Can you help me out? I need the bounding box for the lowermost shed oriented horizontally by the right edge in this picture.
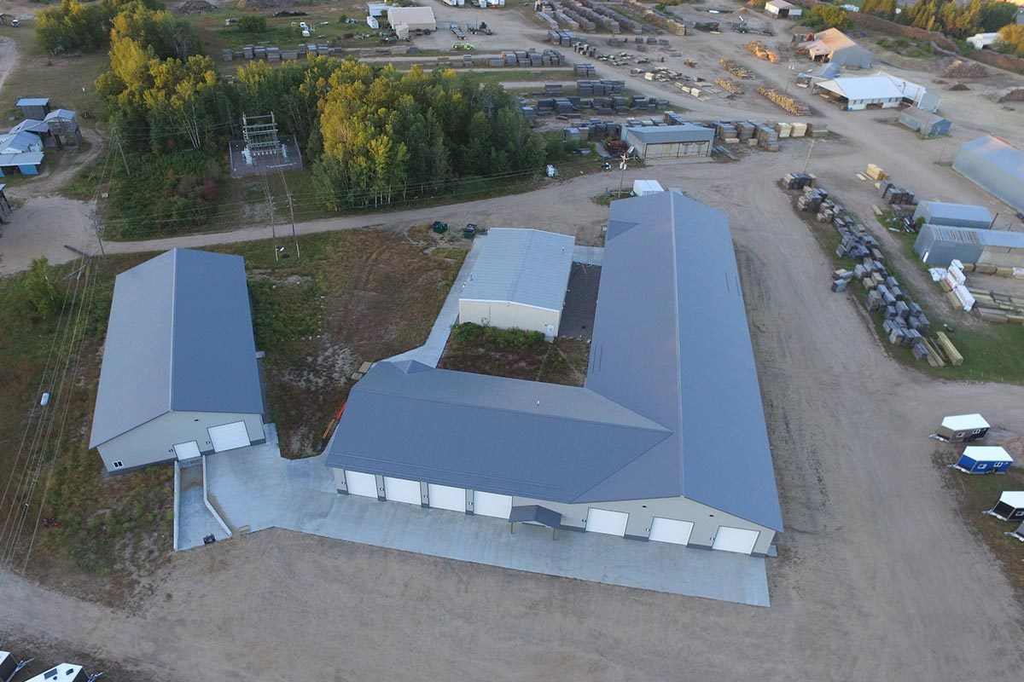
[914,220,1024,273]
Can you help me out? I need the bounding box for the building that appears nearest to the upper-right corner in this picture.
[967,32,1000,51]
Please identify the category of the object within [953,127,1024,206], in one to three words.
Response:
building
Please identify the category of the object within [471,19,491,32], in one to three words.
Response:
vehicle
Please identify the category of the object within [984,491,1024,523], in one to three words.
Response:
trailer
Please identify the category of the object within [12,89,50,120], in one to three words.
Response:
shed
